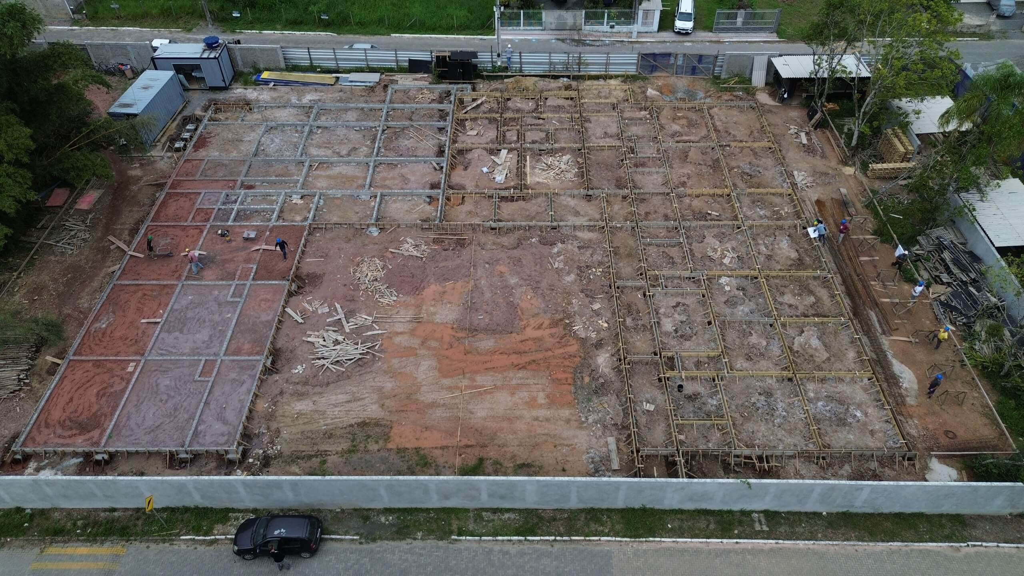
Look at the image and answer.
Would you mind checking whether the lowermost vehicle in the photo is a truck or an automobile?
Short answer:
automobile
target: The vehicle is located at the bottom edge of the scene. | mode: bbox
[231,512,324,561]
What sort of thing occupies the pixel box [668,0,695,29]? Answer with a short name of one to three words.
car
